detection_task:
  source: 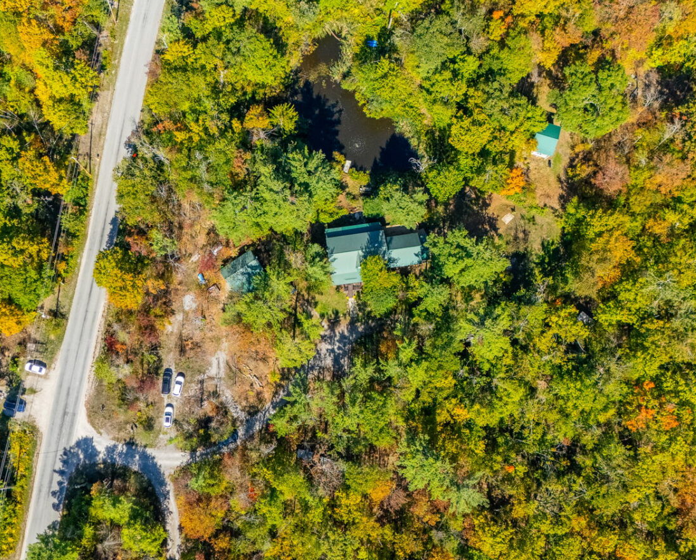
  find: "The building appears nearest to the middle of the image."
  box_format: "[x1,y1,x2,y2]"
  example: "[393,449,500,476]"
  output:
[324,222,430,302]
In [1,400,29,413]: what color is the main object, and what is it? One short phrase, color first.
blue vehicle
